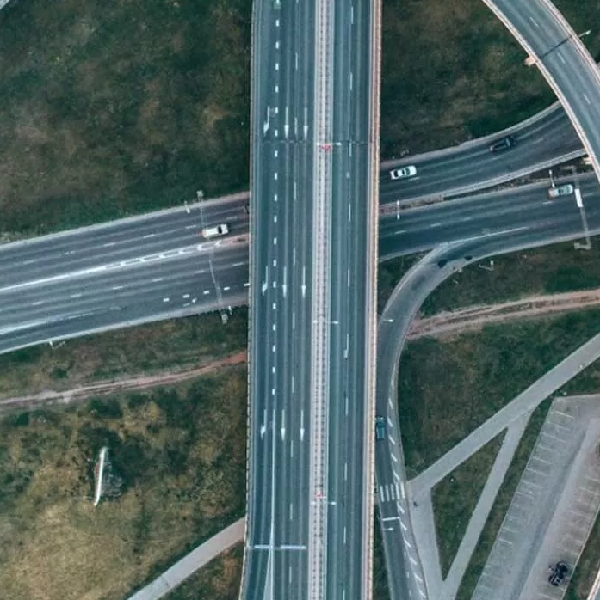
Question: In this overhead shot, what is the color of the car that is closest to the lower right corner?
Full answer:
The car that is closest to the lower right corner is black.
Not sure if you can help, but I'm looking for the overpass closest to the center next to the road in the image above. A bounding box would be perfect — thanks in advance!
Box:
[238,0,381,600]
